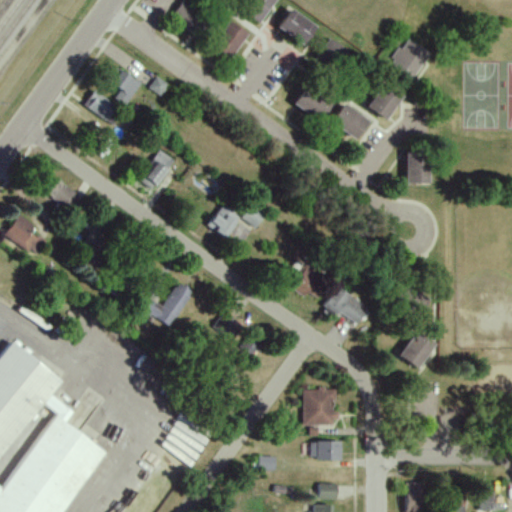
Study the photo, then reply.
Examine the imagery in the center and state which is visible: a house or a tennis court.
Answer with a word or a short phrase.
house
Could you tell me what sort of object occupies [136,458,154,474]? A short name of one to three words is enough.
vehicle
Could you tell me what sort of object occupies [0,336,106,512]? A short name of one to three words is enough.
building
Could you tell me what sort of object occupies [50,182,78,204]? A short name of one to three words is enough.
house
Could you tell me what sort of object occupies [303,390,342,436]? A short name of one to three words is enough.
house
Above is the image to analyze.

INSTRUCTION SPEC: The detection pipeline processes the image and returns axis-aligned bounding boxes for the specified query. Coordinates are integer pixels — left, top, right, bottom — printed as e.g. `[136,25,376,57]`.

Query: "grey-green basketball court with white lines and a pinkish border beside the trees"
[463,62,500,130]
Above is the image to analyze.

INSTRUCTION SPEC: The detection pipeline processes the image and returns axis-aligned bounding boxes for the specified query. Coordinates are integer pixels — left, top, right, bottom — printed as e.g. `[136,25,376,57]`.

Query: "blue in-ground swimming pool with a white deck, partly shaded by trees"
[192,174,218,196]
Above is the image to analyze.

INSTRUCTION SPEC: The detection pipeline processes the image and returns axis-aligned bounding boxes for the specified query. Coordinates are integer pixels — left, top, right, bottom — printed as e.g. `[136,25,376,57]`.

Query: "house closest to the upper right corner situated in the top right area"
[394,38,430,75]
